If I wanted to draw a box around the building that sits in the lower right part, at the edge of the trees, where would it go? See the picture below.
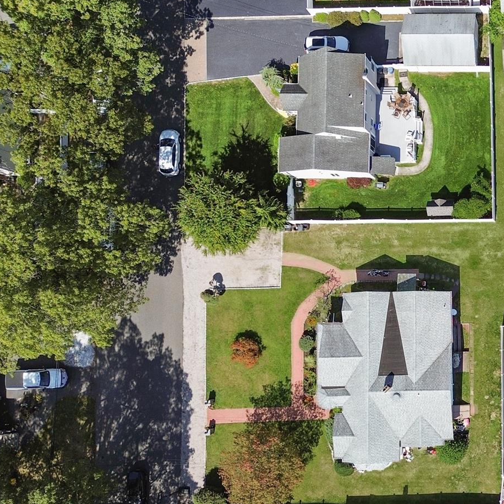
[317,273,459,472]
